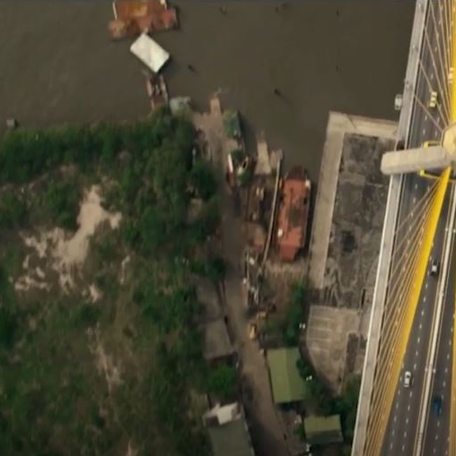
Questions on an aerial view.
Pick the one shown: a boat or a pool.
boat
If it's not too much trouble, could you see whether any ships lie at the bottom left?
No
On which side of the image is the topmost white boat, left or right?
left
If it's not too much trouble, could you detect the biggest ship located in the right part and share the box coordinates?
[276,166,313,261]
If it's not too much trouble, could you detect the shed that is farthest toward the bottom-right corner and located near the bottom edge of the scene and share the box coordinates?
[304,416,343,445]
